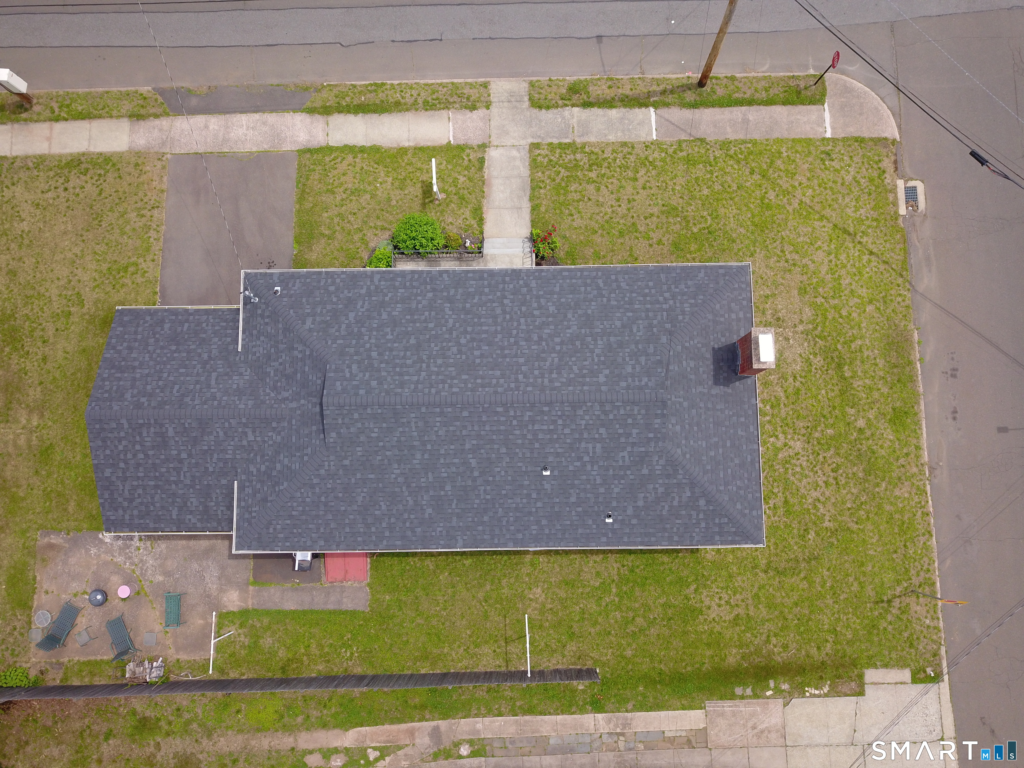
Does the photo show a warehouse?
No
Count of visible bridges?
0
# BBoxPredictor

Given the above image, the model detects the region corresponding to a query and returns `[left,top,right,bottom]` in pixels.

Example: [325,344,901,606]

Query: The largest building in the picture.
[84,262,780,553]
